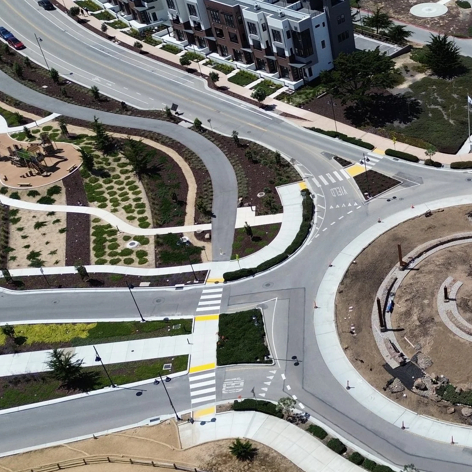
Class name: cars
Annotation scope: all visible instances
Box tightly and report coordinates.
[37,0,54,8]
[0,23,13,38]
[4,36,25,48]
